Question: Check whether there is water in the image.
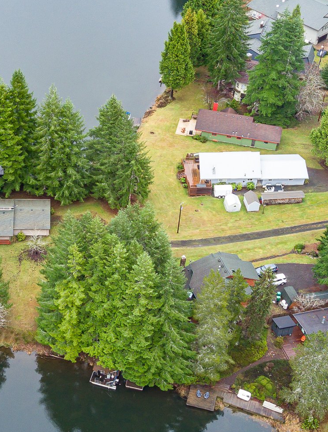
Yes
